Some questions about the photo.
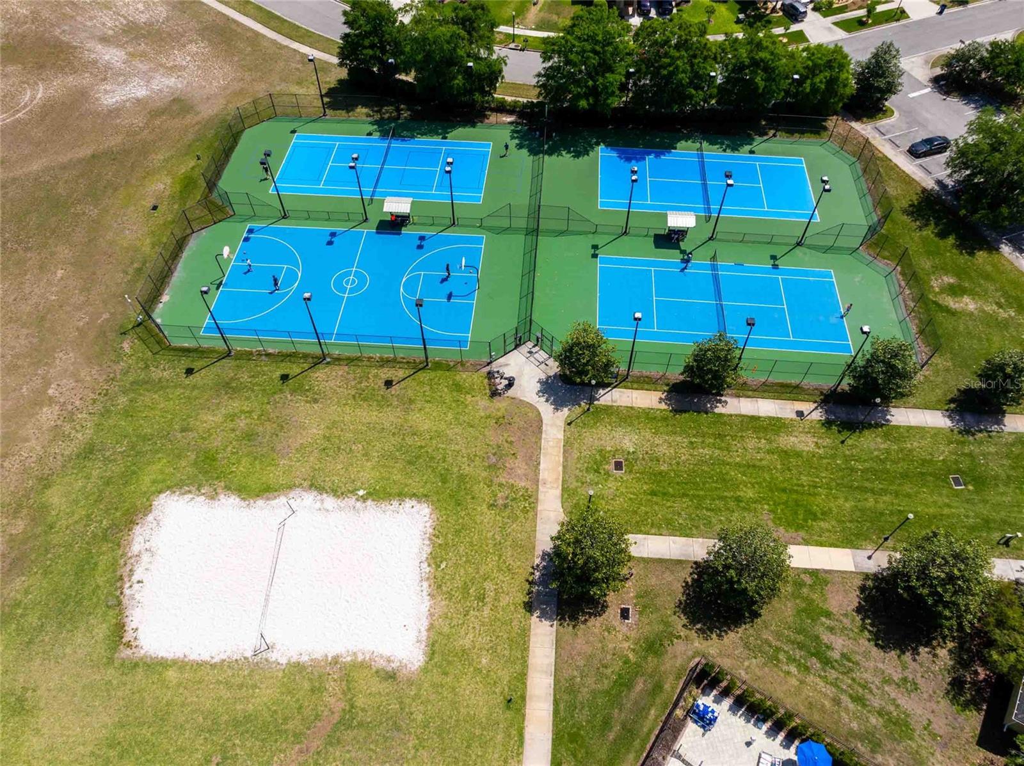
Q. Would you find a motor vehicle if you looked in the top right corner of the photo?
Yes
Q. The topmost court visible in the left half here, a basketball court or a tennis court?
tennis court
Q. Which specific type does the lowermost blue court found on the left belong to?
basketball court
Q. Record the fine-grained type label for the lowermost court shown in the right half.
tennis court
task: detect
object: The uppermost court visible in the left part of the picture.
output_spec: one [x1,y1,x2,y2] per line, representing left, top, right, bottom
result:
[212,116,546,230]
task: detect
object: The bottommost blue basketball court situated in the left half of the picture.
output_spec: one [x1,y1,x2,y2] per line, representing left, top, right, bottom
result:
[151,213,539,362]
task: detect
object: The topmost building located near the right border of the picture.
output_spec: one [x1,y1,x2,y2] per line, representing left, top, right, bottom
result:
[993,665,1024,739]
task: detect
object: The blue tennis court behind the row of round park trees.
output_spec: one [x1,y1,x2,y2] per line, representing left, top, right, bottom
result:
[530,230,924,387]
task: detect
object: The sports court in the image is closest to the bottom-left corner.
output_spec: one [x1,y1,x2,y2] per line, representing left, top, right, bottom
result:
[119,488,432,676]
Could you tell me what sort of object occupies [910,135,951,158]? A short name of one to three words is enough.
car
